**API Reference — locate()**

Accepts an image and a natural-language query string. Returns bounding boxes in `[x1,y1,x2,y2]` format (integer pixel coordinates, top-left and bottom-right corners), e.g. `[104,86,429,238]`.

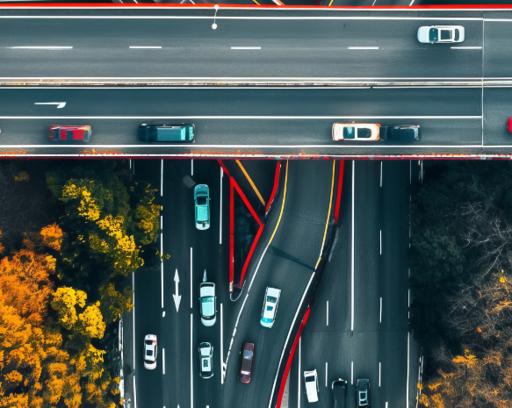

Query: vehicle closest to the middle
[192,183,211,230]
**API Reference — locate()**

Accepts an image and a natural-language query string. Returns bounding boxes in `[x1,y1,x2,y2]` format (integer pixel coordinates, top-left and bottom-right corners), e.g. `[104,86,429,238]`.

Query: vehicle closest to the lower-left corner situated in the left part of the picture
[141,335,158,371]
